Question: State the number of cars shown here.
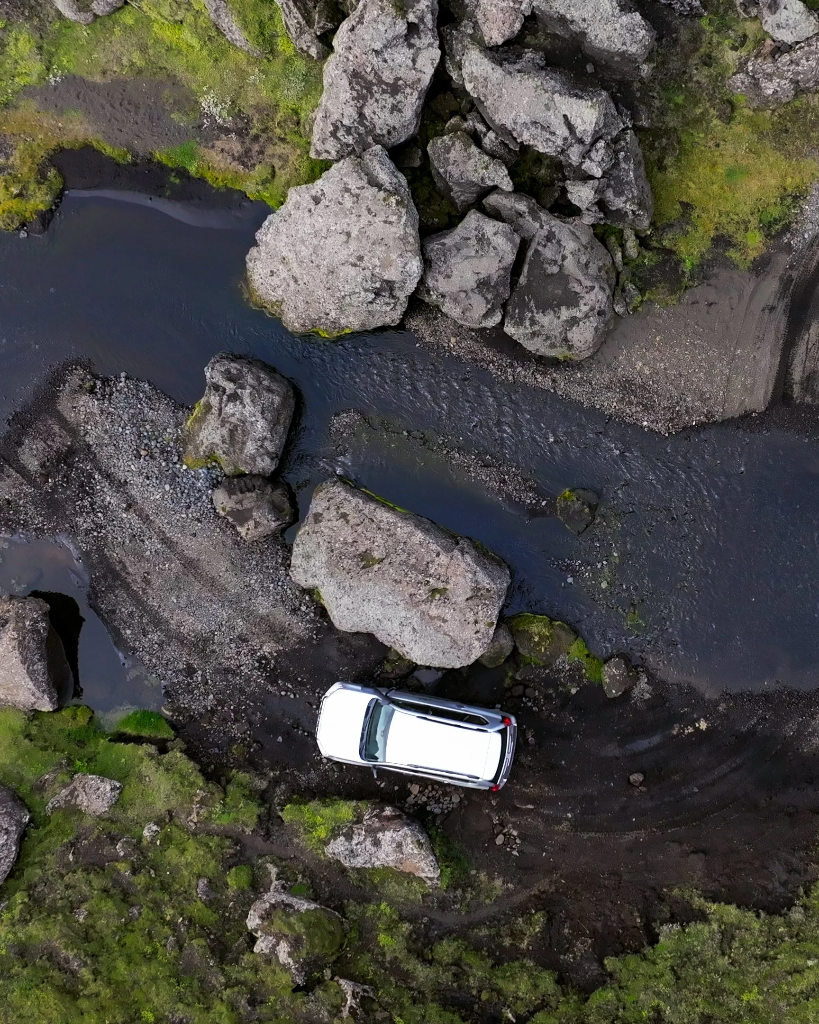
1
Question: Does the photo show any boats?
No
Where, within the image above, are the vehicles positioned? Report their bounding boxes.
[317,681,517,793]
